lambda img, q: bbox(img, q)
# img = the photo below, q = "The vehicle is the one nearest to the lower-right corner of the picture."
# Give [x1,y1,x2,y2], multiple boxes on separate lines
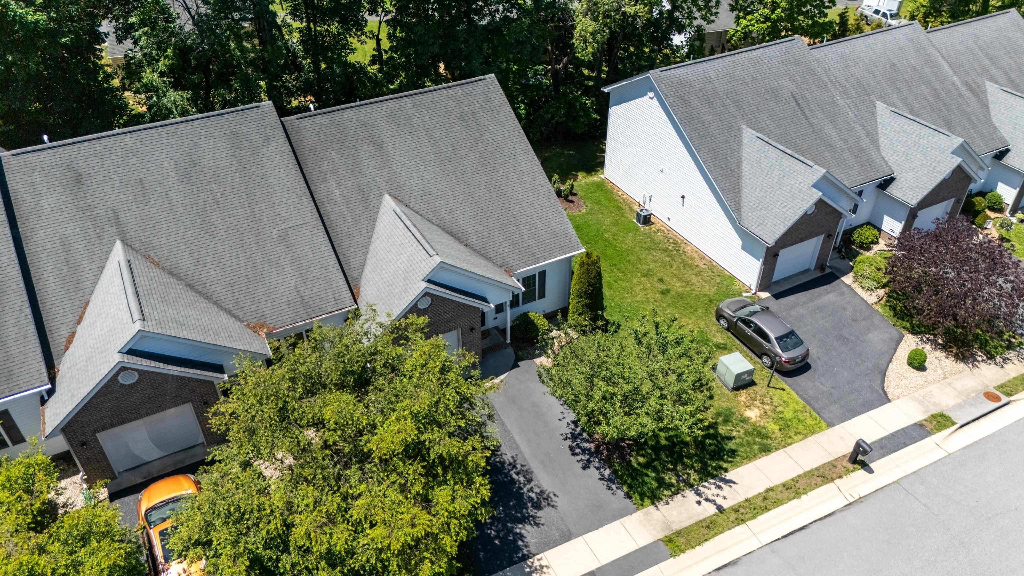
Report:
[718,300,817,384]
